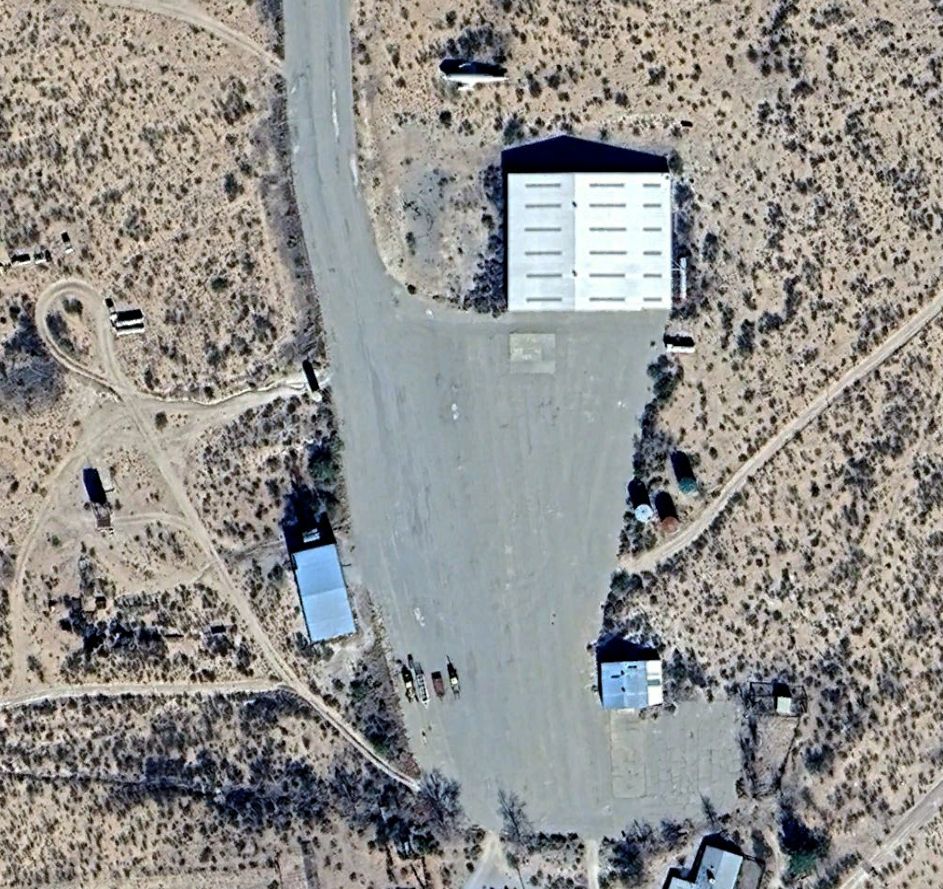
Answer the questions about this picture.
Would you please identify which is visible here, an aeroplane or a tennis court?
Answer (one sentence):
The one in the frame is an aeroplane.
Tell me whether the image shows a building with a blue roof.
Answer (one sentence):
Yes, a building with a blue roof appears in the view.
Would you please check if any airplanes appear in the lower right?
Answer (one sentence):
No, no airplane can be made out in the lower right.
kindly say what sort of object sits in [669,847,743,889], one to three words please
house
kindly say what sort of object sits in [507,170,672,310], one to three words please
hangar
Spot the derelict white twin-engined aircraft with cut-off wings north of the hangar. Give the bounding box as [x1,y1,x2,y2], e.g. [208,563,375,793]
[441,64,506,91]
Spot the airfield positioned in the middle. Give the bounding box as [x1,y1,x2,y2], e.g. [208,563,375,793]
[283,0,741,838]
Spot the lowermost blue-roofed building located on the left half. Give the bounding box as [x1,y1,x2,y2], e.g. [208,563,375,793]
[291,544,355,643]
